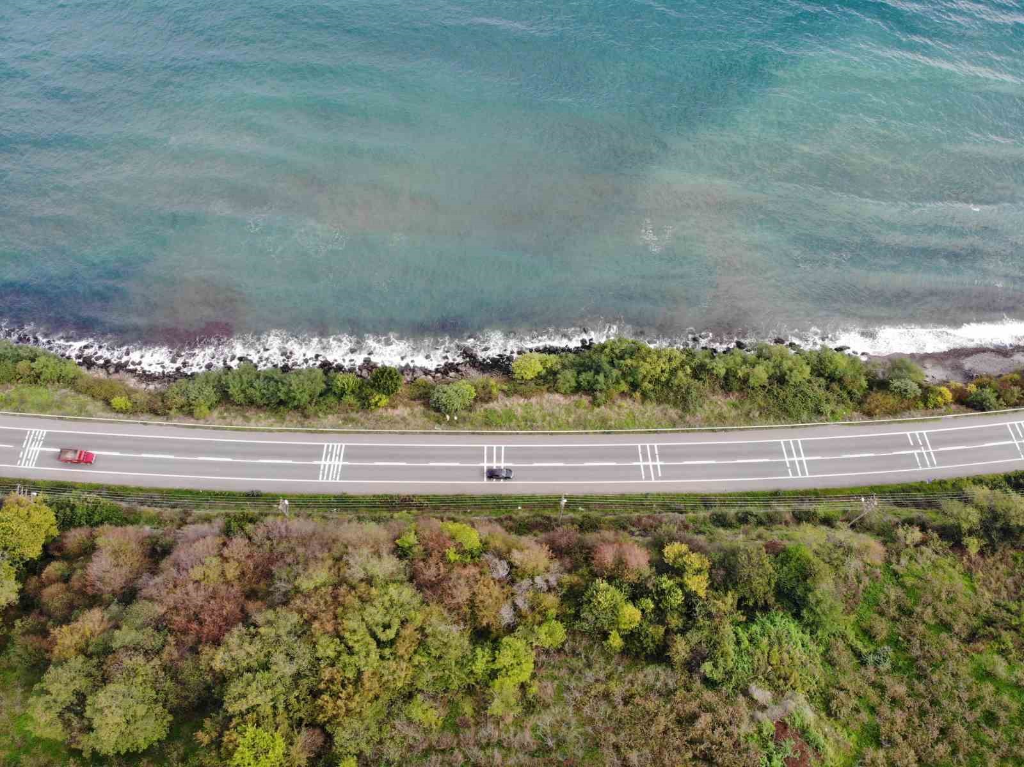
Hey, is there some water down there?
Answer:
Yes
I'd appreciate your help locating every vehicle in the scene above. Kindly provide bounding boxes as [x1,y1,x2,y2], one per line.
[54,448,97,465]
[487,468,512,480]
